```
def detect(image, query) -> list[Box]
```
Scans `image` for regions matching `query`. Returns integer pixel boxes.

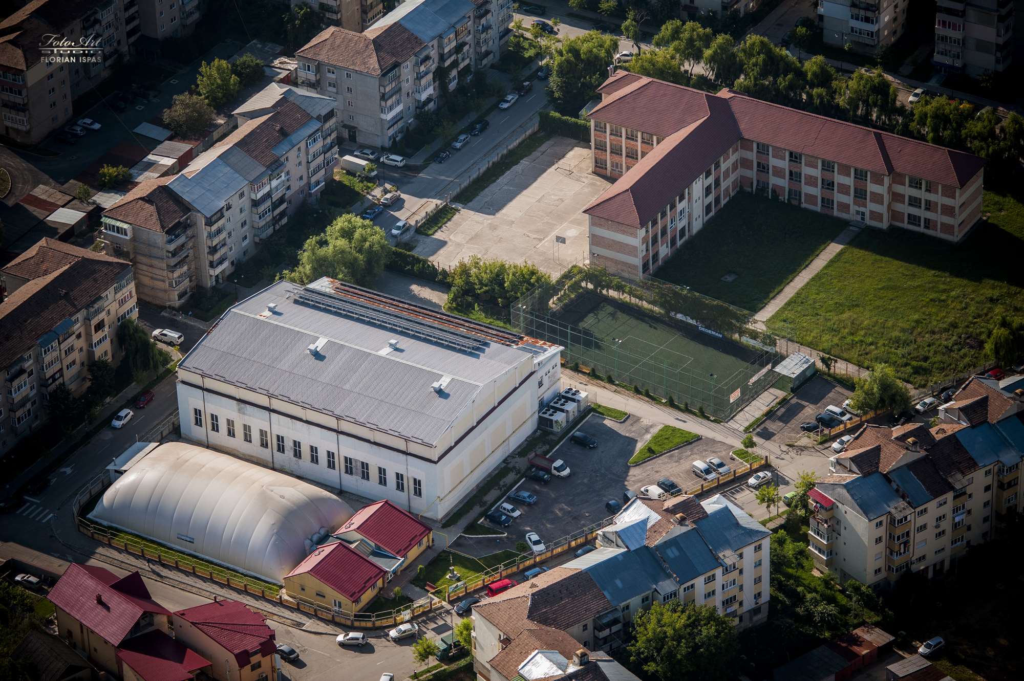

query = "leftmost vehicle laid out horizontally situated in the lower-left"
[13,573,44,589]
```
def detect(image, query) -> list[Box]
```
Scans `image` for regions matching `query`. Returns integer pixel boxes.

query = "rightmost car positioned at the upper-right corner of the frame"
[974,104,996,120]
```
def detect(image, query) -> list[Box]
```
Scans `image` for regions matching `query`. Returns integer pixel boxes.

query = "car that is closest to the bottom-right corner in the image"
[916,635,947,656]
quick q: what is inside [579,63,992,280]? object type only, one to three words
building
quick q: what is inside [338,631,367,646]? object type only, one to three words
car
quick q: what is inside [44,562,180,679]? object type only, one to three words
house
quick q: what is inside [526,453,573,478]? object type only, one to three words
truck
